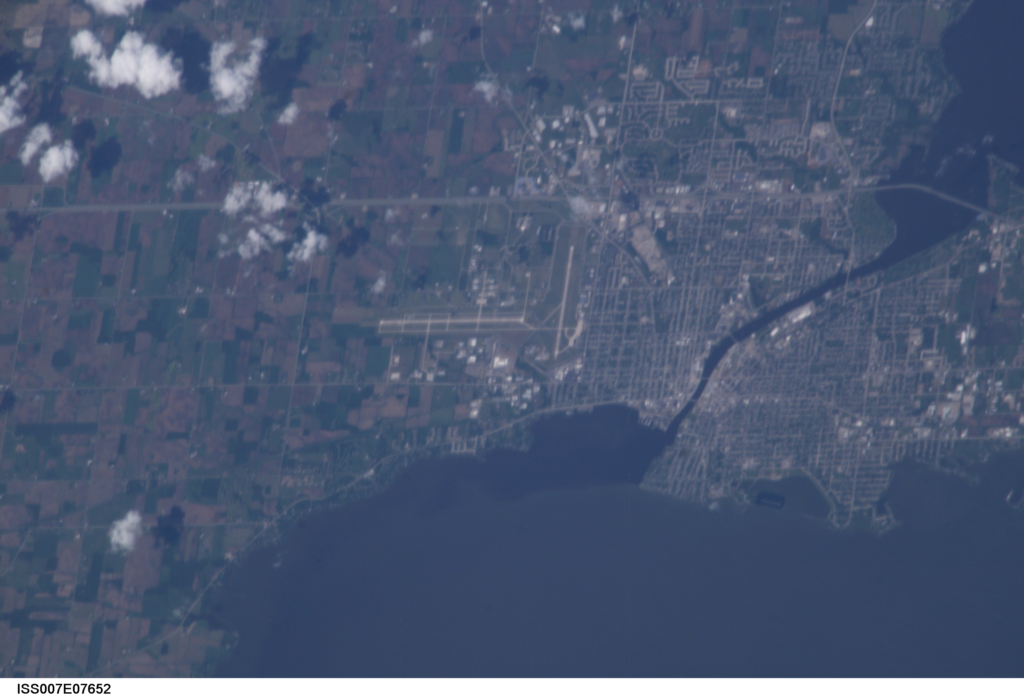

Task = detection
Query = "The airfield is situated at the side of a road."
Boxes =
[378,228,586,370]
